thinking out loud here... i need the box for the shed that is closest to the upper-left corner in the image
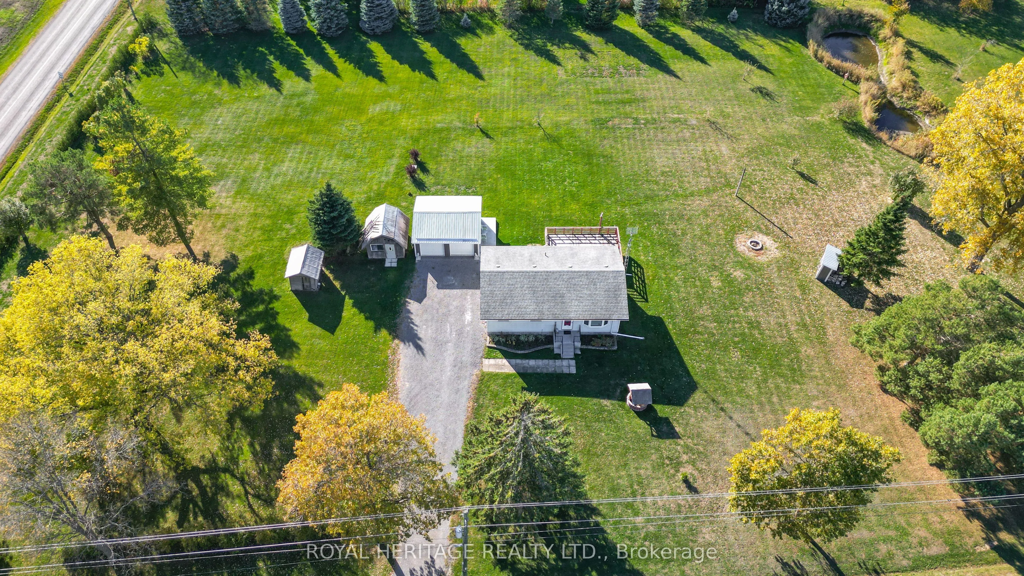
[281,244,321,291]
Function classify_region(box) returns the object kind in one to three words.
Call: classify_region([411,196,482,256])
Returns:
building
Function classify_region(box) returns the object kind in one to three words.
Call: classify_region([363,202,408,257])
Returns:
shed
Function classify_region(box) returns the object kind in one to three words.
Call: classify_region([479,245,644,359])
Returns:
house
